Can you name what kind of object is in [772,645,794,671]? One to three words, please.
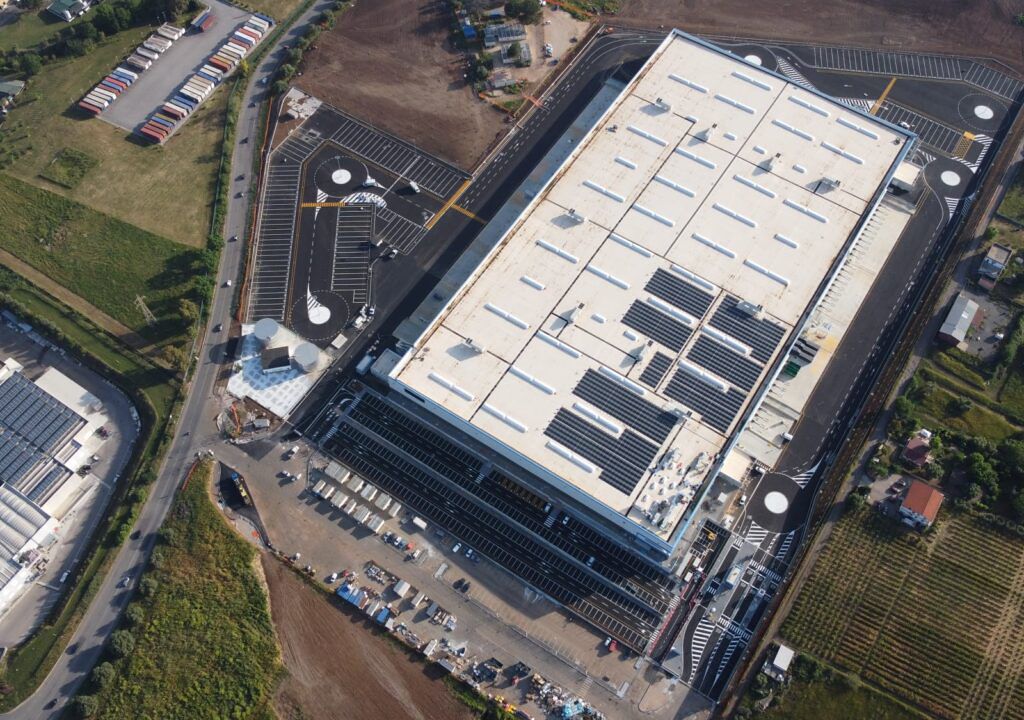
shed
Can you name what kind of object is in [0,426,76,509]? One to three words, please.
building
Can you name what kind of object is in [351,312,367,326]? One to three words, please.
vehicle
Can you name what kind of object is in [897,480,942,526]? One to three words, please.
house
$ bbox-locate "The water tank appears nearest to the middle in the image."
[293,343,323,375]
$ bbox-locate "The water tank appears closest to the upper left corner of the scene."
[253,317,284,348]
